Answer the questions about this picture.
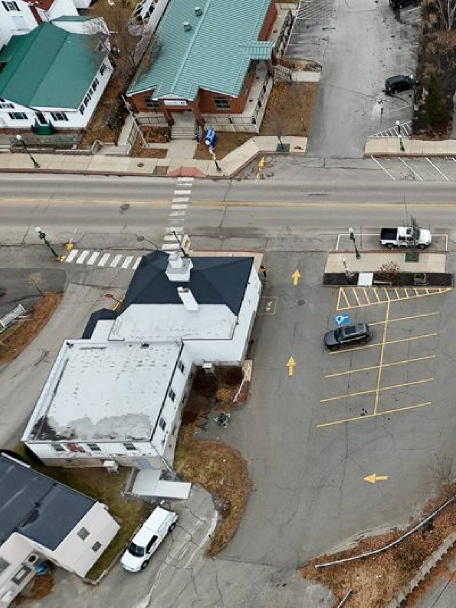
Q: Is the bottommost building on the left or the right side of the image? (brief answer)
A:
left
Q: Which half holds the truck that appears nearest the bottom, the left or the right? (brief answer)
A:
left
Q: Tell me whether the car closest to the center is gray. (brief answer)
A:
Yes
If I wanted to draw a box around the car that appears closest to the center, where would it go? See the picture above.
[323,322,373,353]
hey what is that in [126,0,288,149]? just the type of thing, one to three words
building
